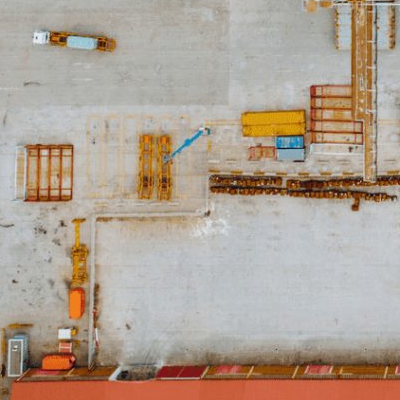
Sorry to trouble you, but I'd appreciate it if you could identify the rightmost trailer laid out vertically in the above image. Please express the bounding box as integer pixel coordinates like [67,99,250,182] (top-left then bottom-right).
[156,134,174,200]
